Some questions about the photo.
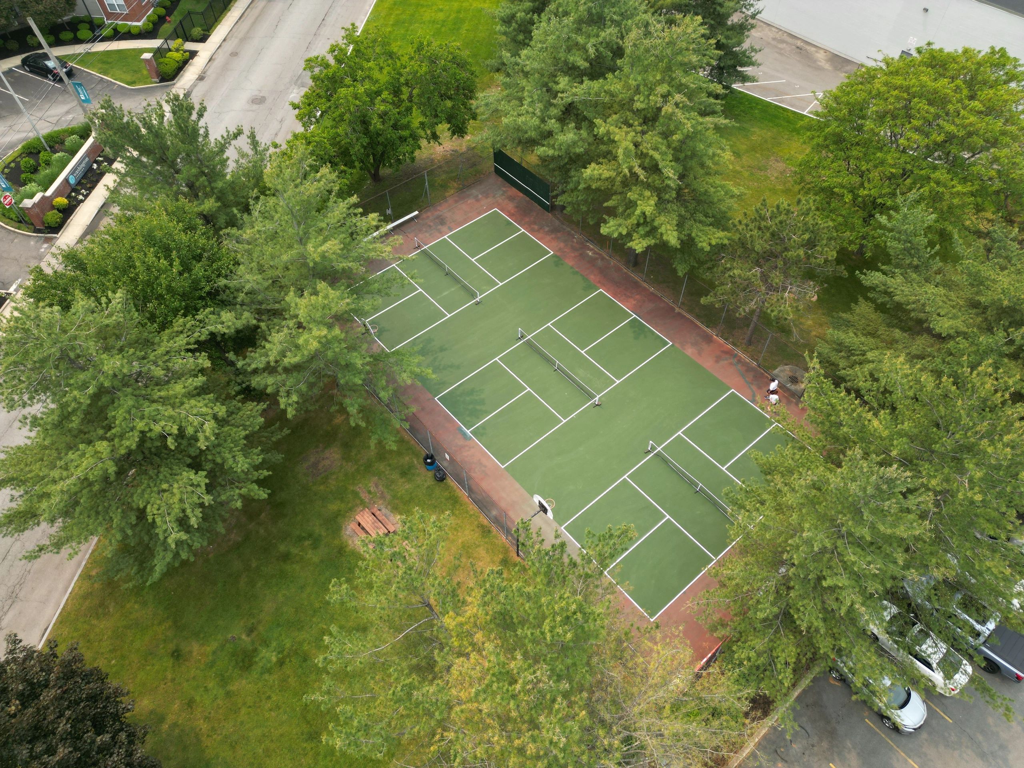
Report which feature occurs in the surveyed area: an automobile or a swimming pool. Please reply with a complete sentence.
There is an automobile in the scene.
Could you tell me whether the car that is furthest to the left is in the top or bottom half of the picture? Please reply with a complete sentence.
The top half of the photo is where the car that is furthest to the left is.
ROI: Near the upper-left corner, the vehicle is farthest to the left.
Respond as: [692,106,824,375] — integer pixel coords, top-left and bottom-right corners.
[22,50,69,79]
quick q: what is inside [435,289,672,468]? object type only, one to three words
sports court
